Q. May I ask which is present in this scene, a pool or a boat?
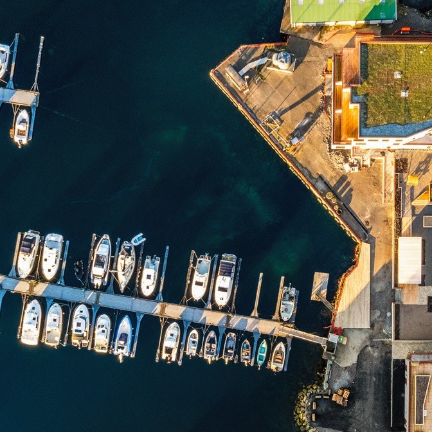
boat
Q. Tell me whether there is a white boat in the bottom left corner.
Yes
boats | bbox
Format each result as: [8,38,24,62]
[203,323,220,364]
[159,319,182,365]
[114,311,135,363]
[74,254,84,279]
[44,297,64,350]
[218,329,235,364]
[17,293,42,349]
[141,251,161,297]
[267,335,289,375]
[70,298,91,352]
[112,242,134,297]
[257,333,271,367]
[188,250,214,306]
[91,310,113,353]
[14,105,30,148]
[90,235,111,294]
[133,232,148,245]
[0,42,10,78]
[280,281,297,322]
[214,251,241,311]
[238,336,255,364]
[186,322,200,358]
[40,230,63,284]
[14,227,41,281]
